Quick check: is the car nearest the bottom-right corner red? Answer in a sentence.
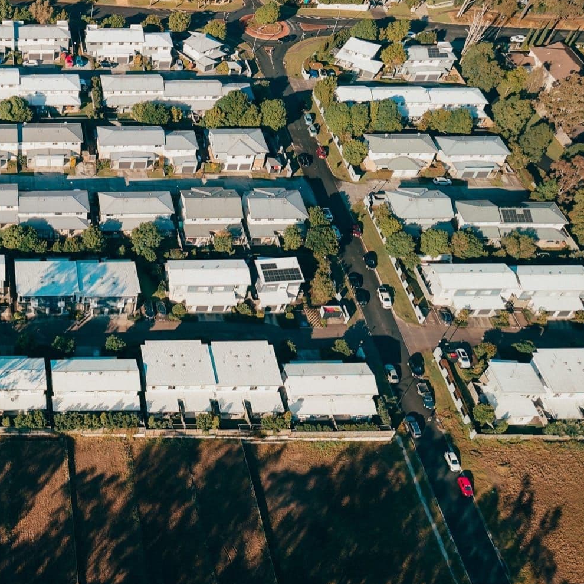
Yes, red is the color of the car nearest the bottom-right corner.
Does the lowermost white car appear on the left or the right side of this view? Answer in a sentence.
It is on the right.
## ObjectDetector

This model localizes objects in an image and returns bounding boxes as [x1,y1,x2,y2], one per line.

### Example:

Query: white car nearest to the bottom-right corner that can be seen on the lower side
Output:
[442,449,462,473]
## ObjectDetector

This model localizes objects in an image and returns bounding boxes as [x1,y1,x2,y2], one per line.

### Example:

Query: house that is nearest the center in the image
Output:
[251,258,306,312]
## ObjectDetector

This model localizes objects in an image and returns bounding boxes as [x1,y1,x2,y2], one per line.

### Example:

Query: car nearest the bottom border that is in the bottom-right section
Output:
[455,473,476,499]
